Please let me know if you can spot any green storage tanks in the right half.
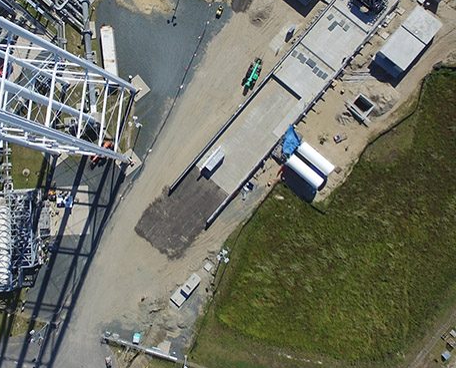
No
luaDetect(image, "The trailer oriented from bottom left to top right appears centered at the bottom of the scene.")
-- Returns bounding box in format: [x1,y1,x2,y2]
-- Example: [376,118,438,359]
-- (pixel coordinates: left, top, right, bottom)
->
[166,270,202,310]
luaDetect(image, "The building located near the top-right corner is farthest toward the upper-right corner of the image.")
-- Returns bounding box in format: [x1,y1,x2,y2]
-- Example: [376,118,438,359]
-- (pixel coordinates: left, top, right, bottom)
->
[396,4,441,43]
